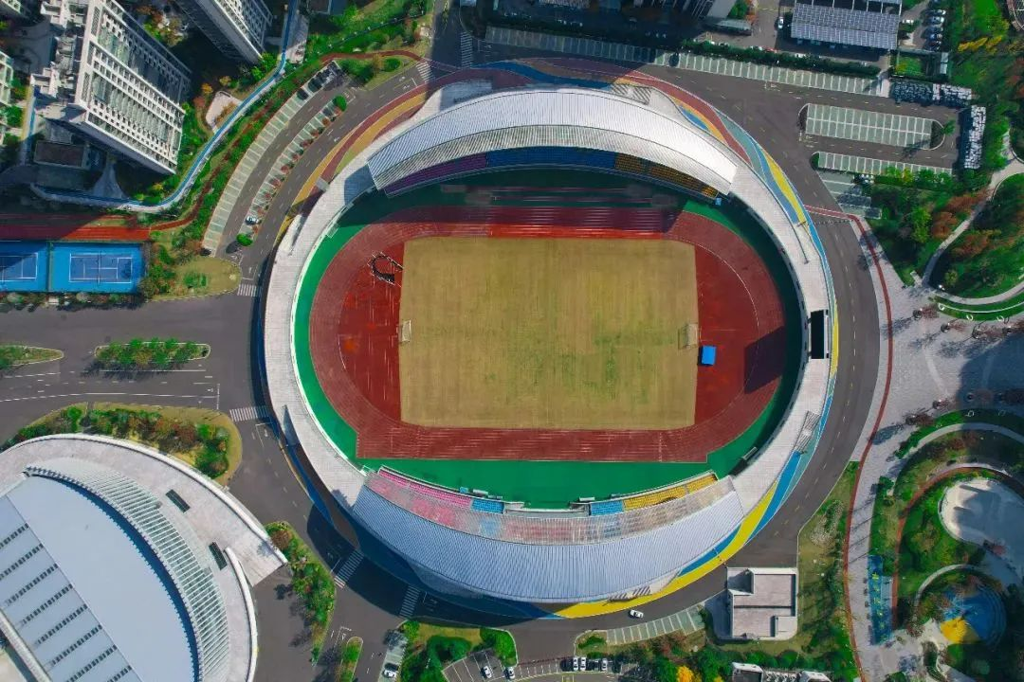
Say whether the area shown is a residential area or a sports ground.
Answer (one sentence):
The area seen from above is a sports ground.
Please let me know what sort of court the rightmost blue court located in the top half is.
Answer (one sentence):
It turns out the rightmost blue court located in the top half is a tennis court.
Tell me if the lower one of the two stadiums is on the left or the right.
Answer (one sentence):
The lower one of the two stadiums sits on the left side.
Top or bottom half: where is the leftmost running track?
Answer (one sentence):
The leftmost running track is in the top half of the image.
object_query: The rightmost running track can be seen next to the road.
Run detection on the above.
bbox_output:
[310,185,785,461]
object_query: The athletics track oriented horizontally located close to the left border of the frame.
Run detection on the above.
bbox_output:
[0,214,150,239]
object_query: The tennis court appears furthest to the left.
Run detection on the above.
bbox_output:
[0,239,47,292]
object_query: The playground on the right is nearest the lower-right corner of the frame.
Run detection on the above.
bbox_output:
[940,584,1011,650]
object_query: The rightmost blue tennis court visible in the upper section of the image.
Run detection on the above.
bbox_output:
[46,241,143,292]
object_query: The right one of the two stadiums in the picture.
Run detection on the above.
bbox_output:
[264,79,831,605]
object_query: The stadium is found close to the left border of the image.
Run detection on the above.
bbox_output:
[0,430,291,682]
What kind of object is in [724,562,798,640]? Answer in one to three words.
building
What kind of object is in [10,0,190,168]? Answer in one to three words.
building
